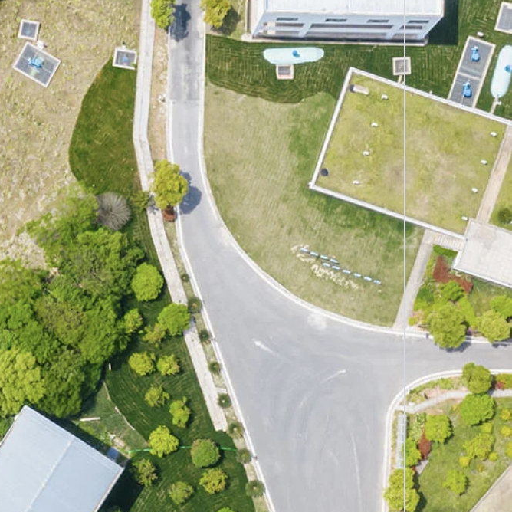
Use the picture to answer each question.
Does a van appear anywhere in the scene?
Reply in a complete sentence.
No, no van can be seen from above.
